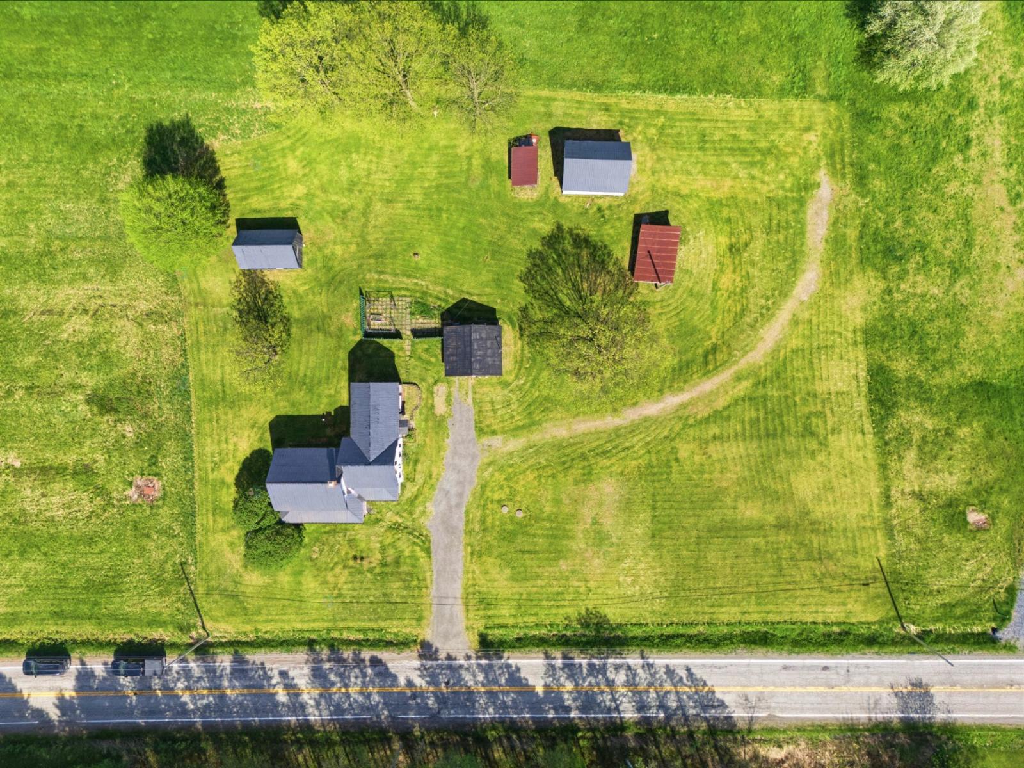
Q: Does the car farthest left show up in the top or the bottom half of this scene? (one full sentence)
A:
Seen from above, the car farthest left lies in the bottom half of the view.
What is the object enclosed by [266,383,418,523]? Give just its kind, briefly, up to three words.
house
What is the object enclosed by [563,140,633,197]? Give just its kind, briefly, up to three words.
barn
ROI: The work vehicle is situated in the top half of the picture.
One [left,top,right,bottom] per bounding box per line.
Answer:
[529,130,541,145]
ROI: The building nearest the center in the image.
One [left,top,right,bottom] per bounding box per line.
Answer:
[442,326,501,377]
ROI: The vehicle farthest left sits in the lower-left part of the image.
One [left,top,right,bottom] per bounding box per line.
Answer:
[25,655,70,678]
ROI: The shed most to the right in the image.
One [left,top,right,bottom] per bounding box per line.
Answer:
[633,224,682,285]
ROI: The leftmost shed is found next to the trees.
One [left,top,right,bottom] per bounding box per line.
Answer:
[231,229,303,271]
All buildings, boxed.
[563,140,633,197]
[511,145,538,189]
[231,229,303,271]
[266,383,418,523]
[442,326,501,377]
[633,224,682,285]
